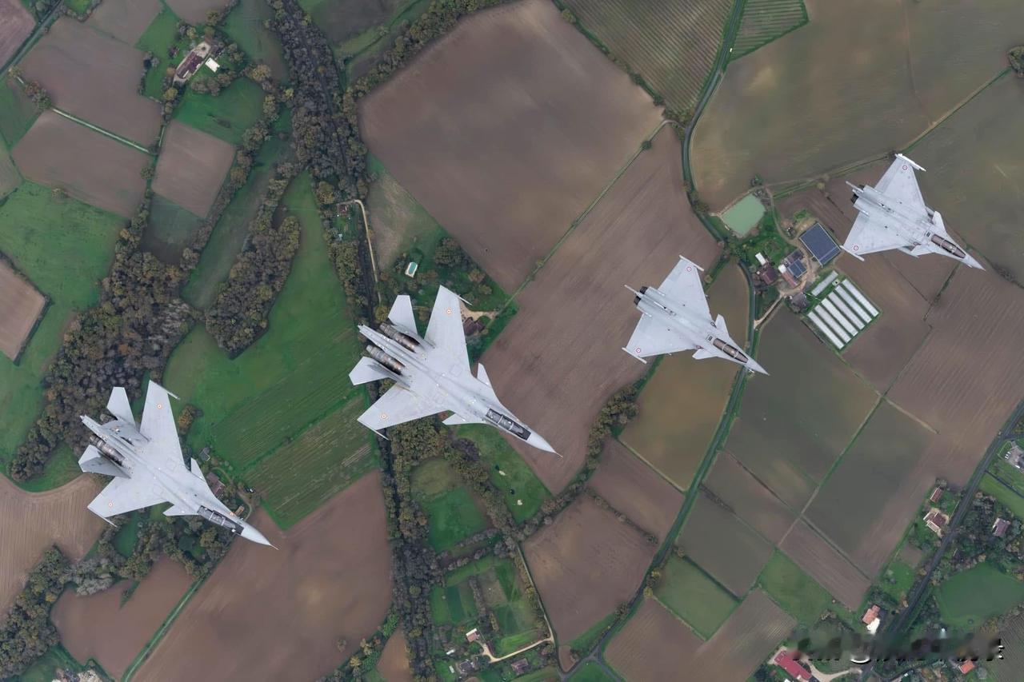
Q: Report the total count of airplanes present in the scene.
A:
4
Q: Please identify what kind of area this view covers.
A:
farmland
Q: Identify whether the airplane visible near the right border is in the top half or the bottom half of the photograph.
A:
top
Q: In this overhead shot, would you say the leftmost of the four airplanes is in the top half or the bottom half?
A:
bottom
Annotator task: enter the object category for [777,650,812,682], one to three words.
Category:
building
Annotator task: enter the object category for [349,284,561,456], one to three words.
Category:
airplane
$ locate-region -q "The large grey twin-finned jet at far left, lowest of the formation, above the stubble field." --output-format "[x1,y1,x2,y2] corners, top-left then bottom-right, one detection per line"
[74,378,278,549]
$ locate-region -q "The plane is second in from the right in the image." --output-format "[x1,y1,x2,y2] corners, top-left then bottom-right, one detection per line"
[621,255,769,376]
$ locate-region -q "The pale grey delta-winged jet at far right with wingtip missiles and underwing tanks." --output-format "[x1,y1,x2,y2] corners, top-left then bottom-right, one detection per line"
[836,151,984,270]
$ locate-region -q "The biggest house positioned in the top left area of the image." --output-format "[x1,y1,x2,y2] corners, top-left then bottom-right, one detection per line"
[176,49,201,76]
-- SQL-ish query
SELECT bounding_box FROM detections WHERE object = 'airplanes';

[349,284,561,456]
[836,151,984,270]
[621,255,769,376]
[74,378,278,549]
